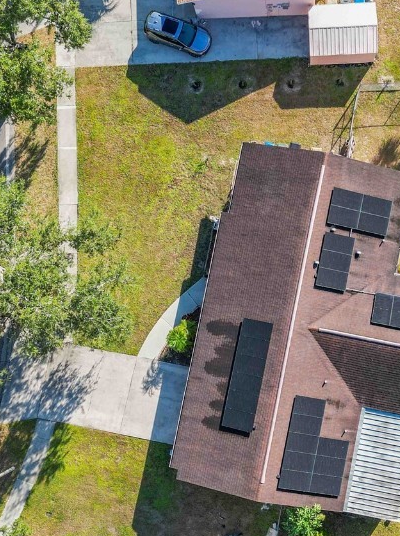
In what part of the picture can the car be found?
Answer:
top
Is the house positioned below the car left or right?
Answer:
right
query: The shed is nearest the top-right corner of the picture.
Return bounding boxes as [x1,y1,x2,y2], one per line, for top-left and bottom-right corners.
[308,1,377,65]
